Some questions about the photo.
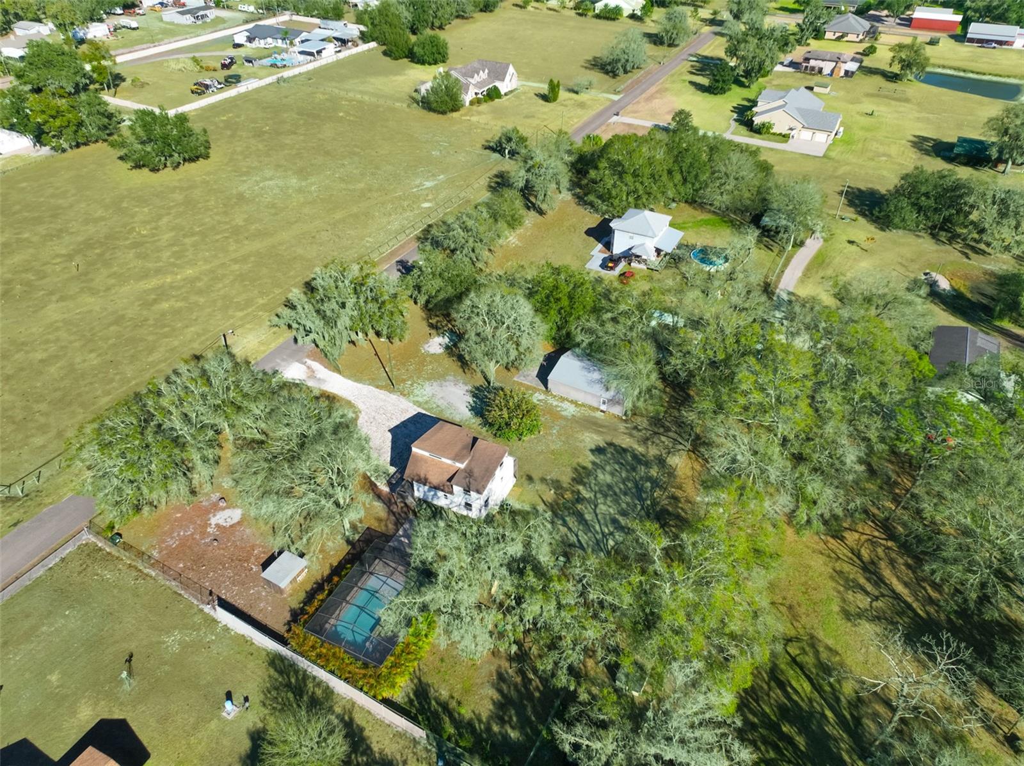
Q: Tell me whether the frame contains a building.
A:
Yes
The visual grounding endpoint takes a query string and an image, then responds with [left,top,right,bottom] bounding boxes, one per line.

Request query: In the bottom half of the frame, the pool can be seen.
[314,555,440,665]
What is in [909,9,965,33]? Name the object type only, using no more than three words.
barn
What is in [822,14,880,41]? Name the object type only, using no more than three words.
house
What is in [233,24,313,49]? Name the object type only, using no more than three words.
house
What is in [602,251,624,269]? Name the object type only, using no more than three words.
vehicle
